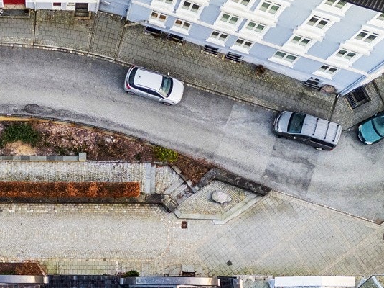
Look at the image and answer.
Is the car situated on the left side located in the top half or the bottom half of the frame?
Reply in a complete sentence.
The top half of the photo is where the car situated on the left side is.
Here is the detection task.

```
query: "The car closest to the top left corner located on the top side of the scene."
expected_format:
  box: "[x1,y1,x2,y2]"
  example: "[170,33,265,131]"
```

[119,62,186,109]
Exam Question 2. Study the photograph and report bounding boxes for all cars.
[271,106,349,152]
[355,110,384,146]
[119,62,186,109]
